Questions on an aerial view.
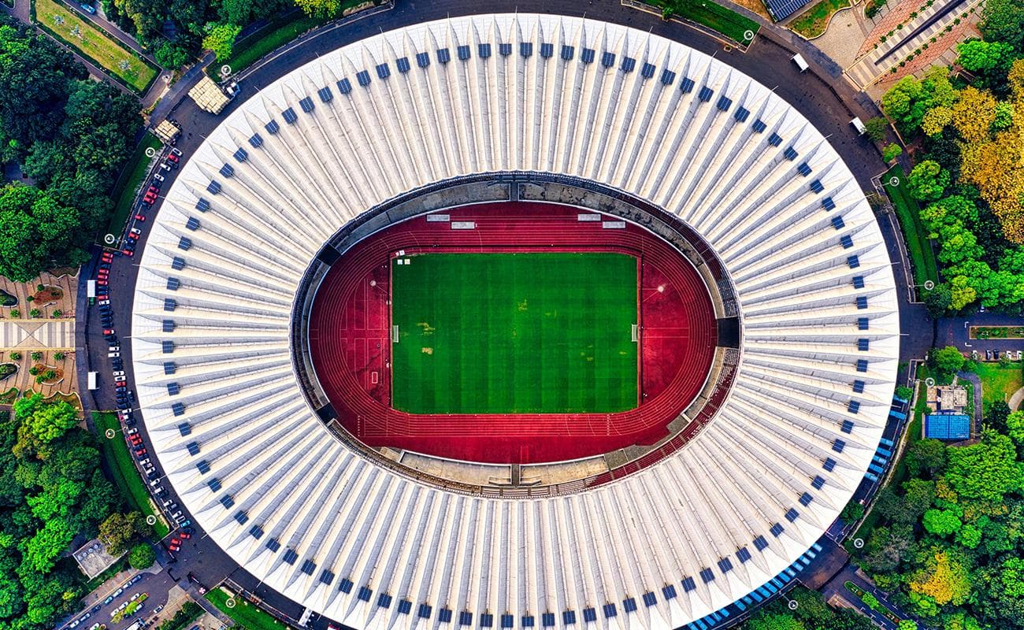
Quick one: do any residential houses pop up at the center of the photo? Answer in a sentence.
No, there's no residential house to be seen at the center of the photo.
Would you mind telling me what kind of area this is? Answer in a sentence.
The area seen from above is a sports ground.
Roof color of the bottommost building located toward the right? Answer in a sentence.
The roof over the bottommost building located toward the right appears blue.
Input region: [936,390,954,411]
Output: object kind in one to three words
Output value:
building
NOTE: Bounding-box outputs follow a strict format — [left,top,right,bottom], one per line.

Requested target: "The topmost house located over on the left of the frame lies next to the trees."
[76,535,131,579]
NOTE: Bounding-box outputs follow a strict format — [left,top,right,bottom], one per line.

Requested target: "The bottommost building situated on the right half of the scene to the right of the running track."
[920,414,970,439]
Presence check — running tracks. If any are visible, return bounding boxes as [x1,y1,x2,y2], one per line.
[310,203,717,462]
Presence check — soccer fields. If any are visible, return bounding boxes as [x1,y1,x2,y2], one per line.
[390,252,640,414]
